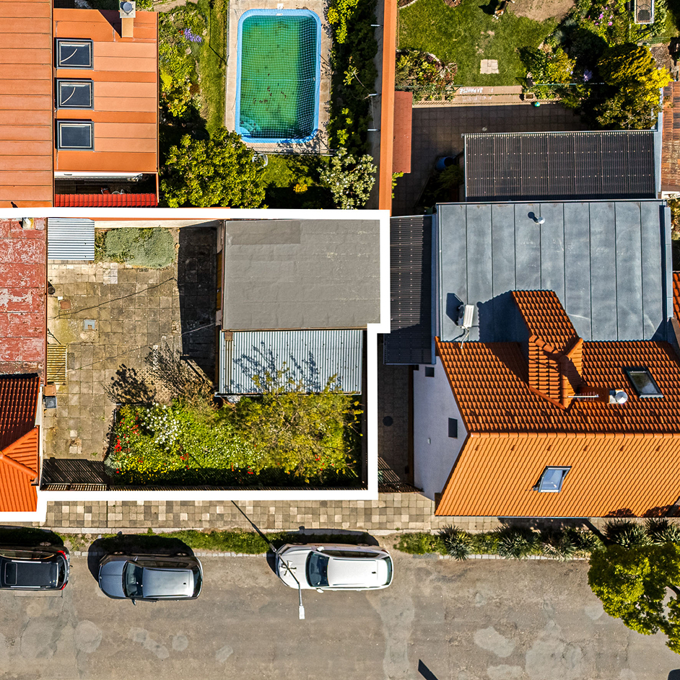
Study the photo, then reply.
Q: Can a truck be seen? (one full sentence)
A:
No, there appears to be no truck in this shot.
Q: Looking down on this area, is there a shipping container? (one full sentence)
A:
No, the photo shows no shipping container.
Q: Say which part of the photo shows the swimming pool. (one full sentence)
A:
The swimming pool appears toward the top of the photo.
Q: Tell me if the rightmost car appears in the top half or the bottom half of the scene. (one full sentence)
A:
It is in the bottom half that the rightmost car appears.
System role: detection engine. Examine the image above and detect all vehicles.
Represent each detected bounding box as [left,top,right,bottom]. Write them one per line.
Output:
[101,550,203,606]
[0,542,69,591]
[279,541,391,597]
